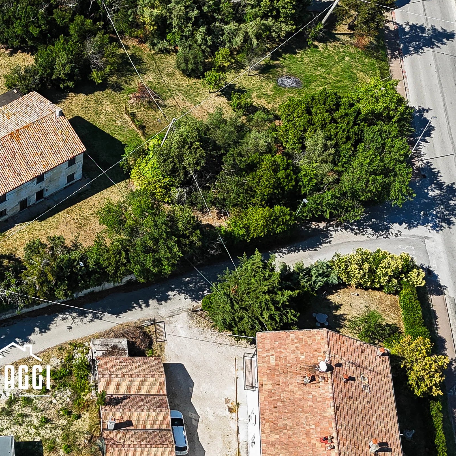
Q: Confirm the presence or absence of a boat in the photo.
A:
No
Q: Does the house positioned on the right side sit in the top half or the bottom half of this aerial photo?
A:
bottom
